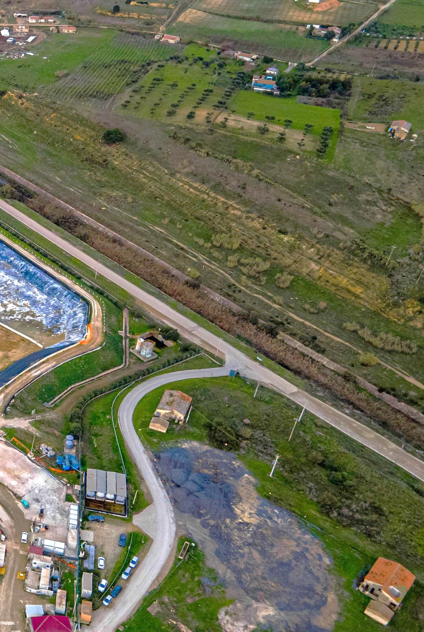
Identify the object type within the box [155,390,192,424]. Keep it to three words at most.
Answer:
house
